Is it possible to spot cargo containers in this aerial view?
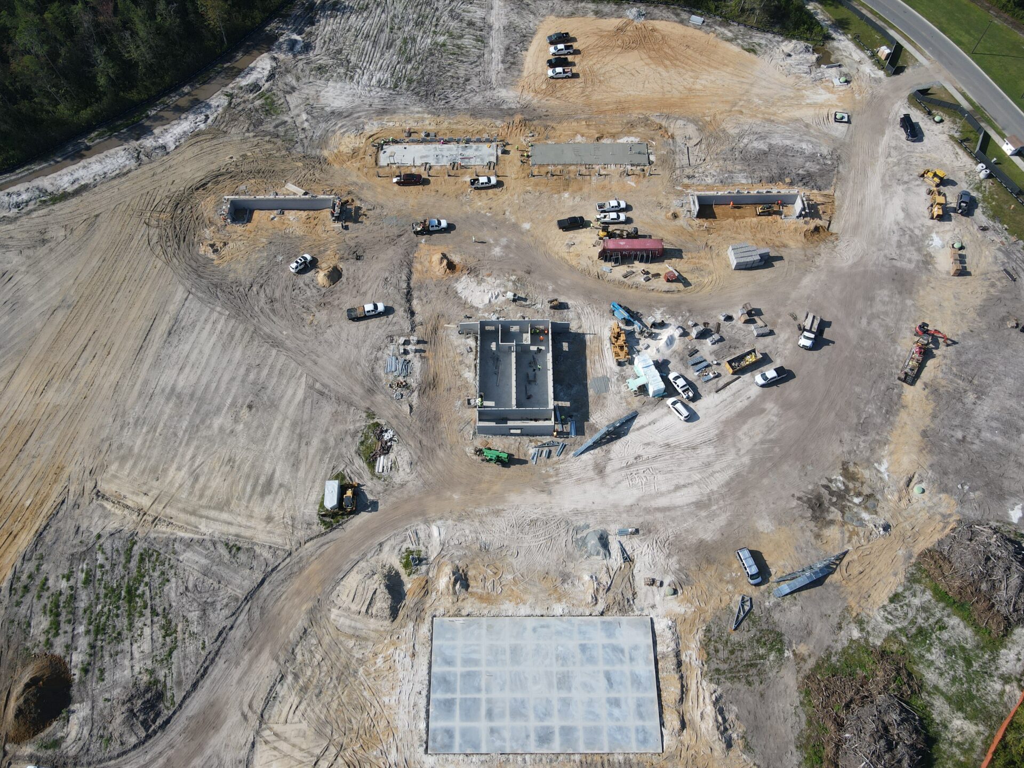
Yes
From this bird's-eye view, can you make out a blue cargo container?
No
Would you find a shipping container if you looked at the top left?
No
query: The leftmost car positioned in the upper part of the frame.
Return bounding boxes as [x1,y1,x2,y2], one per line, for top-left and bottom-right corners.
[288,256,316,273]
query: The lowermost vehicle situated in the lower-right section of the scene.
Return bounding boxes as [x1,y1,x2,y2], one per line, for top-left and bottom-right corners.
[733,549,760,589]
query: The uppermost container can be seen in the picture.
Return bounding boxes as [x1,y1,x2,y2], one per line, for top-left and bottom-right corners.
[597,231,667,256]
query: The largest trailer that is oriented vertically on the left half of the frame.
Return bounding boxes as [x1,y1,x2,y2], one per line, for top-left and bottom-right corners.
[322,477,342,523]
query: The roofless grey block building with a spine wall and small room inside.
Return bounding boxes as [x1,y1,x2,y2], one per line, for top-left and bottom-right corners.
[461,320,568,434]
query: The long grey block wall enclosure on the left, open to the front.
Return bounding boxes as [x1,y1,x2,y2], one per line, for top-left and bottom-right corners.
[223,199,331,223]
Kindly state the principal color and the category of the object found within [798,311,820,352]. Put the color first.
white truck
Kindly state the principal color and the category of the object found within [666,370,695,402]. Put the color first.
white truck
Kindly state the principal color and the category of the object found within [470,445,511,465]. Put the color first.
green work vehicle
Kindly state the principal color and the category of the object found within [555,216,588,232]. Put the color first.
black vehicle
